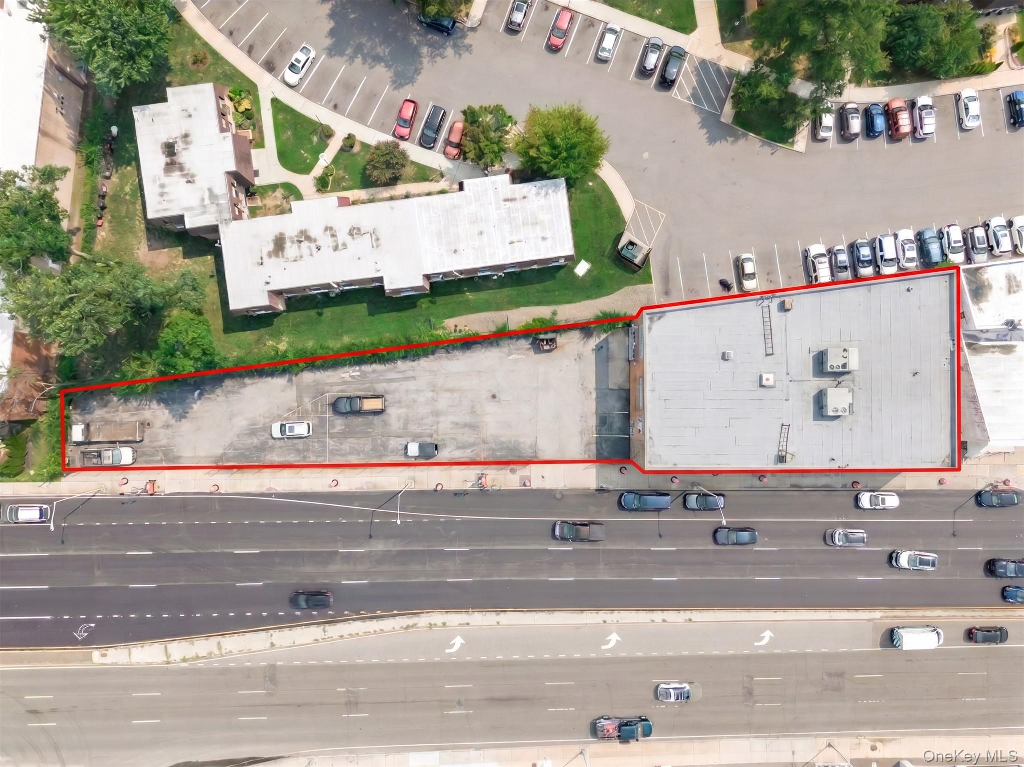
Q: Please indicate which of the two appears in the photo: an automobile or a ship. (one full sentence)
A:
This aerial view contains an automobile.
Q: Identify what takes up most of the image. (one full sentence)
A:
The largest share of the image is taken up by paved ground.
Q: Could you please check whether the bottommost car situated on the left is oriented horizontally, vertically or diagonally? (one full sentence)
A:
The bottommost car situated on the left has been laid out horizontally relative to the frame.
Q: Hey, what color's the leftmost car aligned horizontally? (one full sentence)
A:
In this view, the leftmost car aligned horizontally is white.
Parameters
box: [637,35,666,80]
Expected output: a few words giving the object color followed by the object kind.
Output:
gray car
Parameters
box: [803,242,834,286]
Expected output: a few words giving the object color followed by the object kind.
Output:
white car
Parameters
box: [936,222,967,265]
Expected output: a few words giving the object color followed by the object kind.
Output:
white car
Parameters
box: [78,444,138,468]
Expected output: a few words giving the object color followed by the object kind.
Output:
white truck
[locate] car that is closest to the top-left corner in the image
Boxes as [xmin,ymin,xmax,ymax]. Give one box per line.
[285,41,318,88]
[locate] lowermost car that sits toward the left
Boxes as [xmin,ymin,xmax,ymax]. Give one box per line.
[290,588,335,611]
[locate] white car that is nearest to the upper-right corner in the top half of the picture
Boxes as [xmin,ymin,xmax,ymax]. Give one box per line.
[955,88,981,132]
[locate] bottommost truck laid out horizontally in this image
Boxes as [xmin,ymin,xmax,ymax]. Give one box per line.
[593,715,653,741]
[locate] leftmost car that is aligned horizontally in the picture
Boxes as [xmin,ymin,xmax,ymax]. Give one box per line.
[7,503,53,525]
